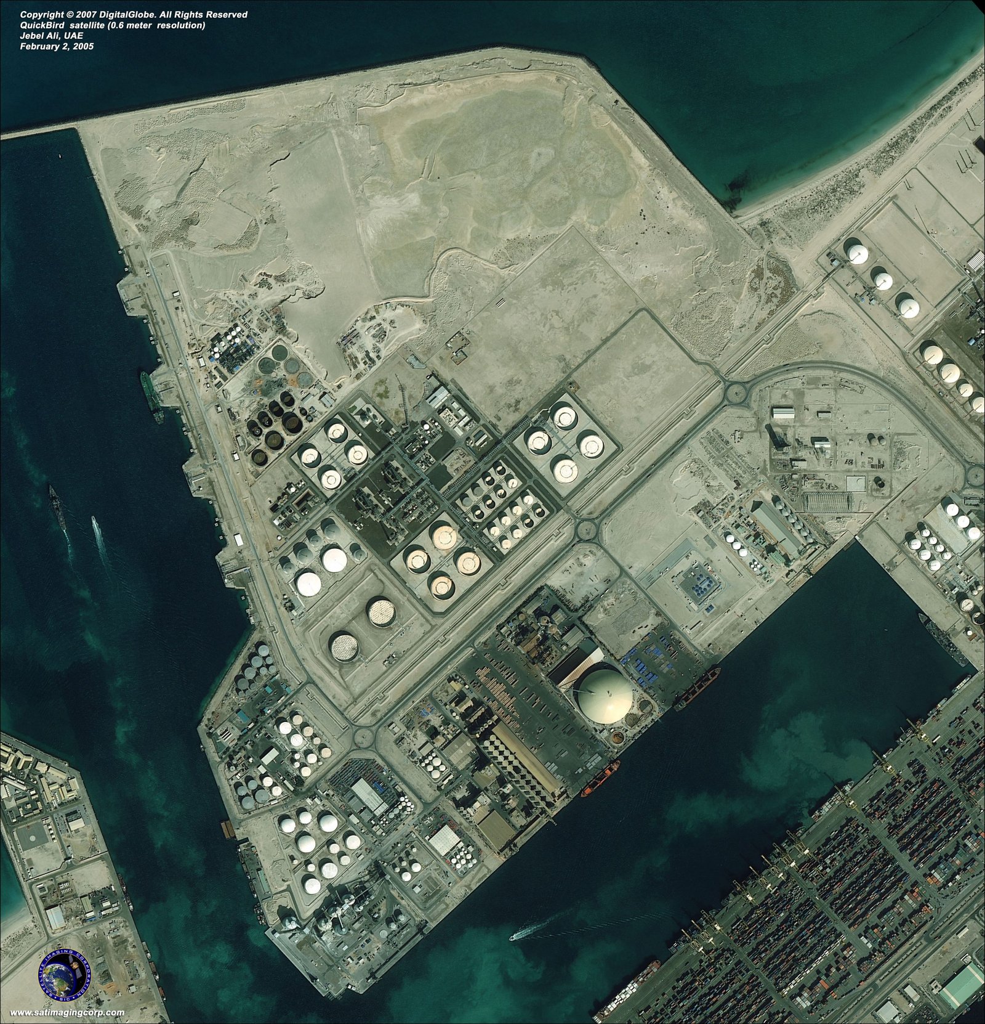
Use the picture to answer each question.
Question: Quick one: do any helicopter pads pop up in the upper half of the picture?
No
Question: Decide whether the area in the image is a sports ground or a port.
port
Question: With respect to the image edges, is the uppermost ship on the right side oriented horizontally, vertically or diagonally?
diagonally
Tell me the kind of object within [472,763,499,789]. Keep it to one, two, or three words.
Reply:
house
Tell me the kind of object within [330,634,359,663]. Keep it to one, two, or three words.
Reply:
storage tank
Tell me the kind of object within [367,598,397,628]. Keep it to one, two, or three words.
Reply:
storage tank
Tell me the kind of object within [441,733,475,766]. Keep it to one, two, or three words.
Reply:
building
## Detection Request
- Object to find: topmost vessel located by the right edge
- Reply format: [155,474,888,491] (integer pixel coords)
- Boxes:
[918,614,968,669]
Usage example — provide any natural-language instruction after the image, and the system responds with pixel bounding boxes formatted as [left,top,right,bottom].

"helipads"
[16,822,48,851]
